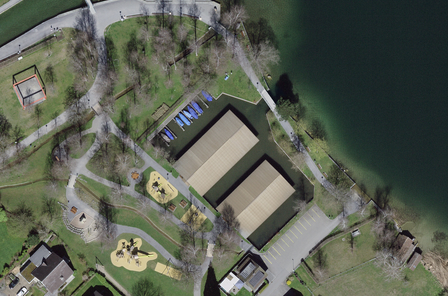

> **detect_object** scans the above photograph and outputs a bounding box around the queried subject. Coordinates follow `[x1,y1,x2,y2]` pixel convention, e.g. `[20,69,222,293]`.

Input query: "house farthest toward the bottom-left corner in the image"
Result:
[21,246,74,294]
